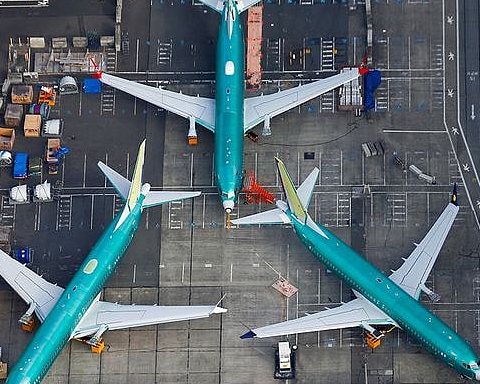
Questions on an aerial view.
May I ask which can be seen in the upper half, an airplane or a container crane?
airplane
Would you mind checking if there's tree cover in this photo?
No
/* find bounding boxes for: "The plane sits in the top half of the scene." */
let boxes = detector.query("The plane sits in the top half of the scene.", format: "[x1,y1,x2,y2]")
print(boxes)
[92,0,368,213]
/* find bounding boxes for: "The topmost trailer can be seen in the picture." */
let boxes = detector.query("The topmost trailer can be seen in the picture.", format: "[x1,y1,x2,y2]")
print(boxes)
[245,7,262,89]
